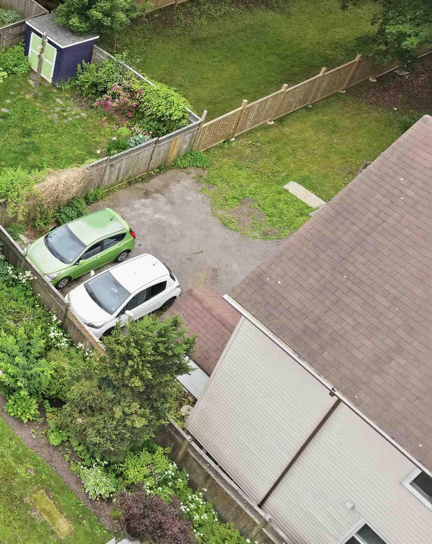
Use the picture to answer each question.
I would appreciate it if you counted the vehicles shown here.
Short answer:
2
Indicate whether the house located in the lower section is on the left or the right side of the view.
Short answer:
right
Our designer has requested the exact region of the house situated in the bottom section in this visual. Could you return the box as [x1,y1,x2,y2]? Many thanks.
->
[184,114,432,544]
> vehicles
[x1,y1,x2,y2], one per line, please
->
[26,210,138,291]
[67,250,185,338]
